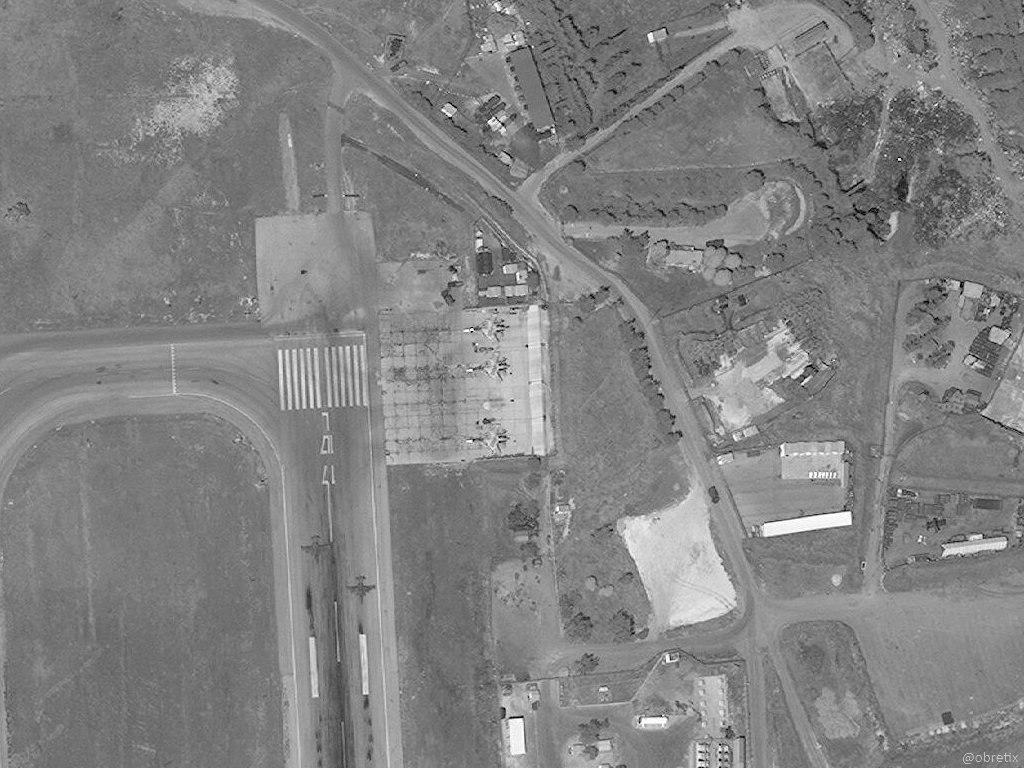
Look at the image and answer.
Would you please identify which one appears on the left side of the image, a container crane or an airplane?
airplane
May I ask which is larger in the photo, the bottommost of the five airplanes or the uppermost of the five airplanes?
the uppermost of the five airplanes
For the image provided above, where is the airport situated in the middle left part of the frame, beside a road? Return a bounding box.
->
[0,113,553,768]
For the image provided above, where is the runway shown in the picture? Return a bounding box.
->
[130,331,402,768]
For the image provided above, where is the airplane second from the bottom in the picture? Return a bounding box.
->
[302,535,331,561]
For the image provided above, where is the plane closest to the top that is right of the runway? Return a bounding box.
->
[463,314,509,341]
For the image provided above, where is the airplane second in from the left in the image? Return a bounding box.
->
[346,576,375,603]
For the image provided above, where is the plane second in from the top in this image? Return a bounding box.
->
[466,353,511,380]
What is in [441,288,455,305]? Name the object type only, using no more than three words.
vehicle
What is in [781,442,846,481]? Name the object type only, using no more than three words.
building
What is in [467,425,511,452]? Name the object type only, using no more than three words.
airplane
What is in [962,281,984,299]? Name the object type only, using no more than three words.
house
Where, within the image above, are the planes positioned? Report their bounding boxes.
[346,576,375,603]
[302,535,331,561]
[463,314,509,341]
[466,353,511,380]
[467,425,511,452]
